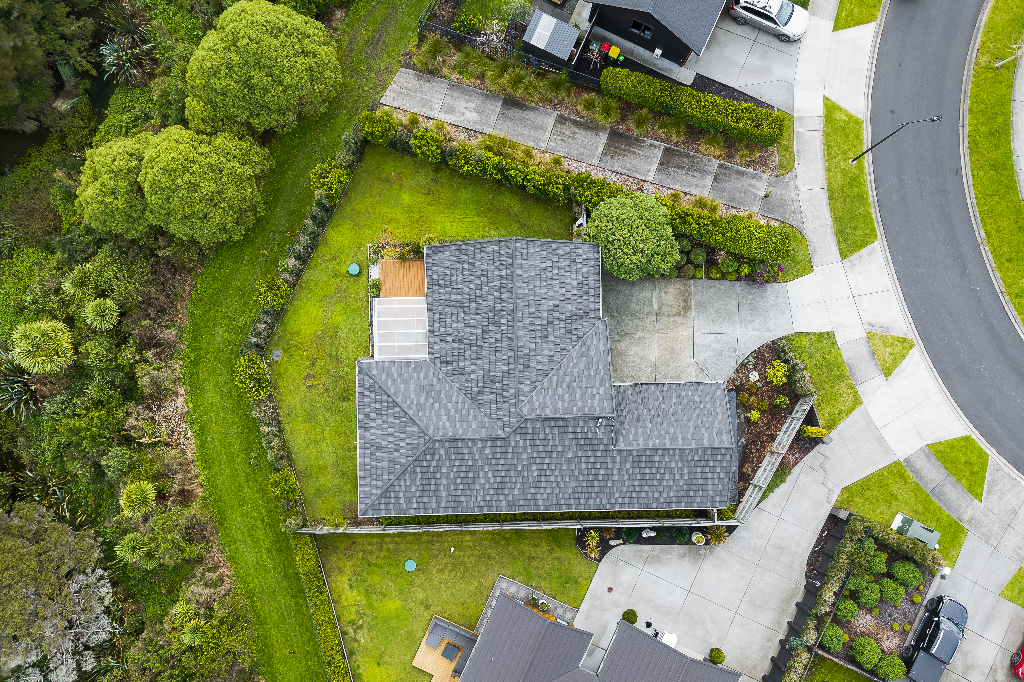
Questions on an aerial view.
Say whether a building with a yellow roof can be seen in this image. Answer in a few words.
No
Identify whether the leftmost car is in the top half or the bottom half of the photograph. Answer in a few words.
top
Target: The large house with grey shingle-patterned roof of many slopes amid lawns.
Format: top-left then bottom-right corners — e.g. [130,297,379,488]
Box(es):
[353,238,735,517]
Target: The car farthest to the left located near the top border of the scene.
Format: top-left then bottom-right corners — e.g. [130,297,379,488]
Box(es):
[727,0,812,43]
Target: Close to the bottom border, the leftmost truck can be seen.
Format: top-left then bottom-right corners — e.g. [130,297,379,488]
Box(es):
[902,593,971,682]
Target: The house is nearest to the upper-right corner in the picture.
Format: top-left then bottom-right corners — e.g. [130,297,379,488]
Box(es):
[577,0,728,67]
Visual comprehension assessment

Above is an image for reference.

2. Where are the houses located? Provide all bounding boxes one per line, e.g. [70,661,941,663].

[353,238,735,517]
[577,0,728,67]
[457,590,744,682]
